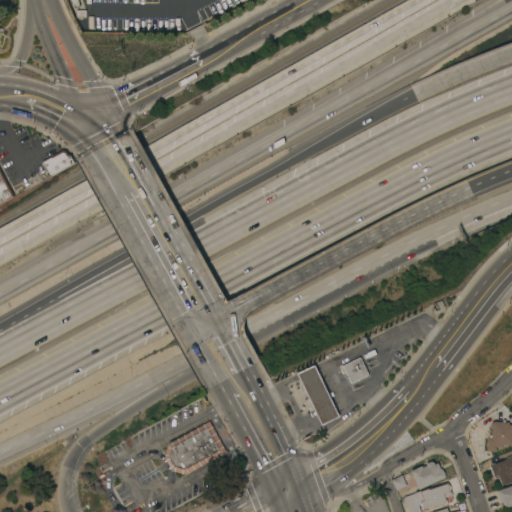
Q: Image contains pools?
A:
No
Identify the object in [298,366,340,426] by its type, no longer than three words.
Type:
building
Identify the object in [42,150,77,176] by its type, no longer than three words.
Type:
building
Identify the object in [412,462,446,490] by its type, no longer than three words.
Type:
house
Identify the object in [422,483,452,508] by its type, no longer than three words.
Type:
house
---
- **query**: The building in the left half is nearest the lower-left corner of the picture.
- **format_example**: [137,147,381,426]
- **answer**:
[166,422,227,474]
